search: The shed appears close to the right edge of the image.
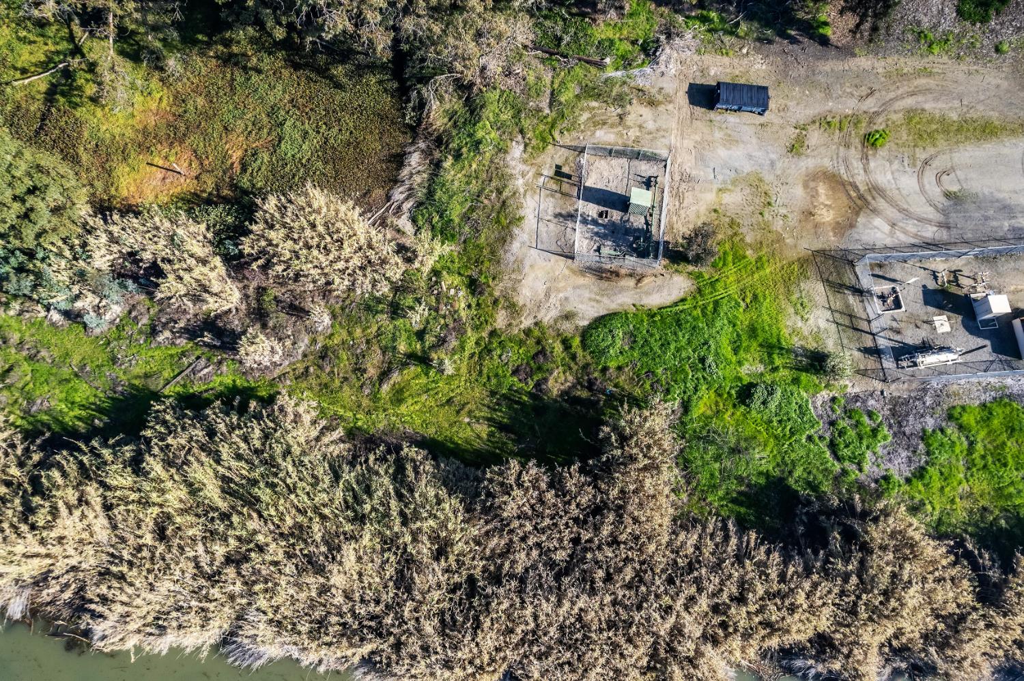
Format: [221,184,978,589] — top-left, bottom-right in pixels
[970,289,1014,329]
